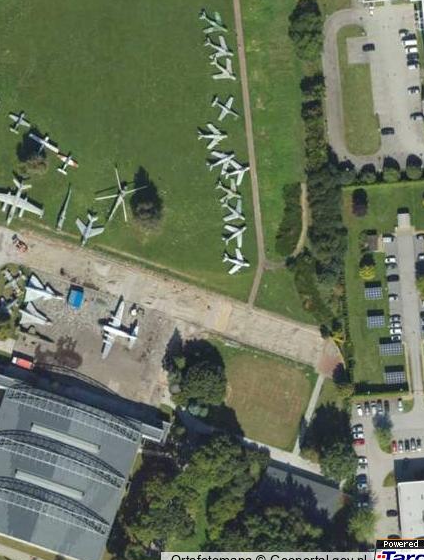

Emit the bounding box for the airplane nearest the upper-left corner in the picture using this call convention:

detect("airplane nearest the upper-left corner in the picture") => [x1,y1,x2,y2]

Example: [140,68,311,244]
[9,111,30,133]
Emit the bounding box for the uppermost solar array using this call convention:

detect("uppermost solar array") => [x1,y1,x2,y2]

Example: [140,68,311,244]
[365,287,382,300]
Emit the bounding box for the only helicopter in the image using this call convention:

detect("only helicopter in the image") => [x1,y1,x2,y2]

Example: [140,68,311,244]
[95,167,146,221]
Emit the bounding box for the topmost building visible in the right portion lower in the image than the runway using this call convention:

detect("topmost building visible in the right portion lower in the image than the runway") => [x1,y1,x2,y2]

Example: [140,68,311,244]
[254,464,344,518]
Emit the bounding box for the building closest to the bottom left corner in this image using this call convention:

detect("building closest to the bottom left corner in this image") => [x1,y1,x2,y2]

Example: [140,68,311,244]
[0,377,171,560]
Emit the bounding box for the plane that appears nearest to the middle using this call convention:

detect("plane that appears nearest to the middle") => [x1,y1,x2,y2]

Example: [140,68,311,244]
[223,248,250,274]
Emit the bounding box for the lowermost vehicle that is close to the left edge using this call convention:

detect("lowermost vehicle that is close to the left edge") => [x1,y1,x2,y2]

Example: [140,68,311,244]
[13,357,35,371]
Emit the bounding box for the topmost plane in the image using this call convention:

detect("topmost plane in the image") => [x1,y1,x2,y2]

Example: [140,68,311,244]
[201,10,228,33]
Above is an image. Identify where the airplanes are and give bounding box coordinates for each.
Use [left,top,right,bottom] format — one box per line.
[29,133,60,156]
[103,301,140,361]
[207,151,235,175]
[18,304,52,327]
[1,265,27,291]
[18,326,53,340]
[76,212,104,246]
[223,248,250,274]
[203,34,234,59]
[209,56,236,80]
[26,278,66,307]
[201,10,228,33]
[223,226,246,248]
[215,178,241,202]
[220,198,245,221]
[9,111,30,133]
[56,154,77,173]
[212,96,239,121]
[58,184,73,231]
[223,161,250,186]
[0,182,45,225]
[197,123,228,150]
